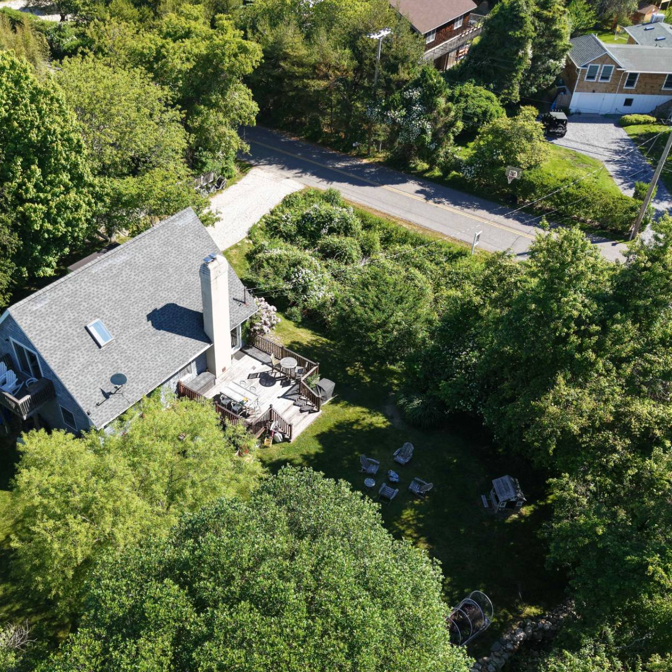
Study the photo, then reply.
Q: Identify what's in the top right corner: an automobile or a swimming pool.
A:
automobile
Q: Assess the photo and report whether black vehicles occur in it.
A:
Yes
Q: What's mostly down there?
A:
trees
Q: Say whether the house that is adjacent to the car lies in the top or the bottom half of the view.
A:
top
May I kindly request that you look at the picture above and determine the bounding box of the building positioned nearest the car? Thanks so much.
[560,14,672,116]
